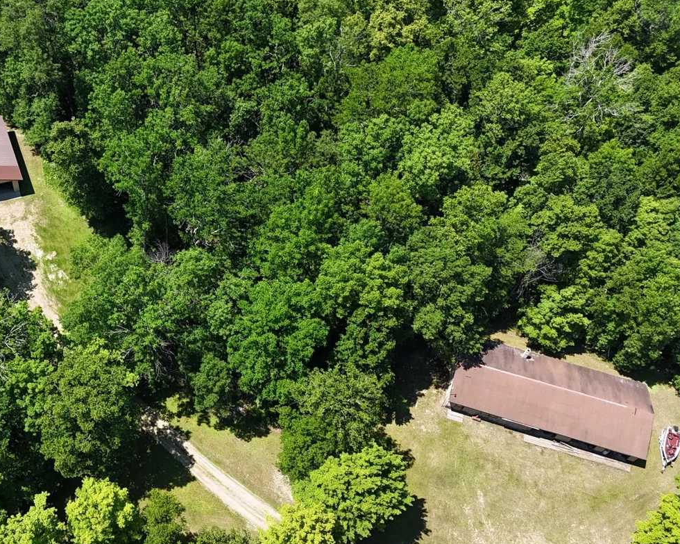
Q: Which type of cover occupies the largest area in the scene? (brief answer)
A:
trees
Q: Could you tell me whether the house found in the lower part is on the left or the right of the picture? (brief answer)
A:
right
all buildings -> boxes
[448,338,654,461]
[0,119,23,203]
